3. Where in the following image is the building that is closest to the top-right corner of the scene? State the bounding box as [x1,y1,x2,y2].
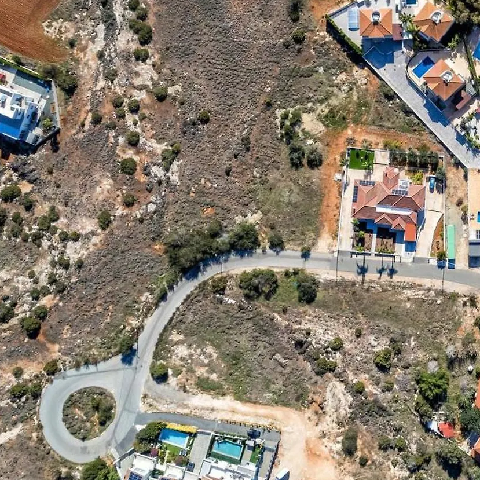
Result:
[413,2,453,41]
